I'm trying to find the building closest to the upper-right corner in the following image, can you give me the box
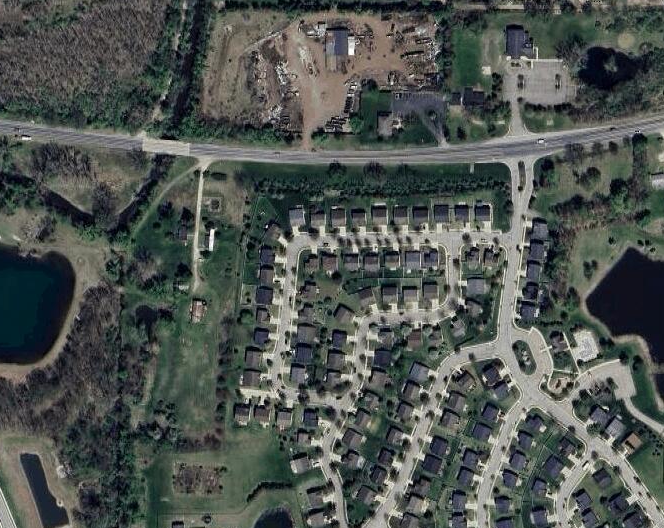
[506,27,533,61]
